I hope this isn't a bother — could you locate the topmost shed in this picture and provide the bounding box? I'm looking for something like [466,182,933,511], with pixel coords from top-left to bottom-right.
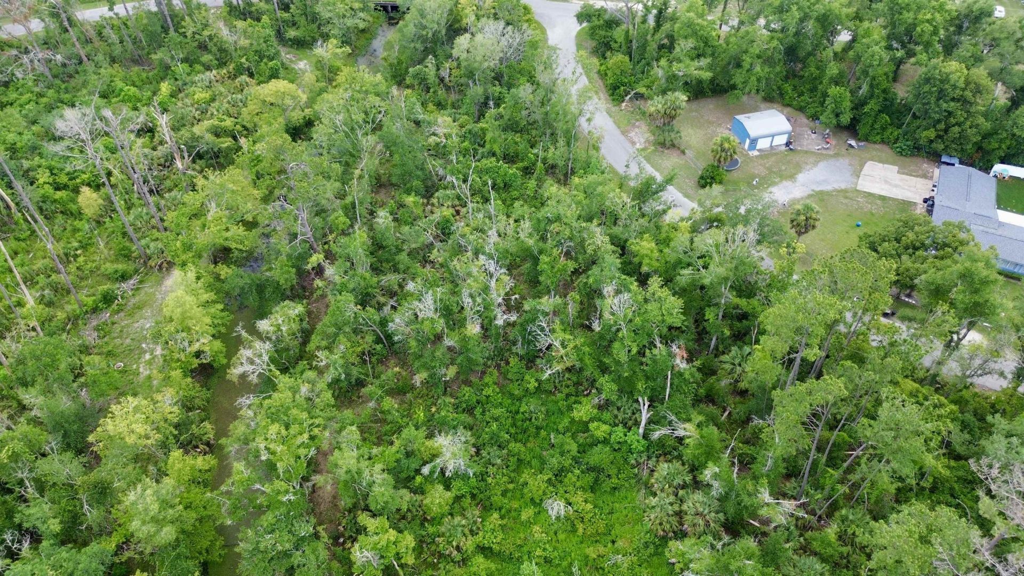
[729,111,793,151]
